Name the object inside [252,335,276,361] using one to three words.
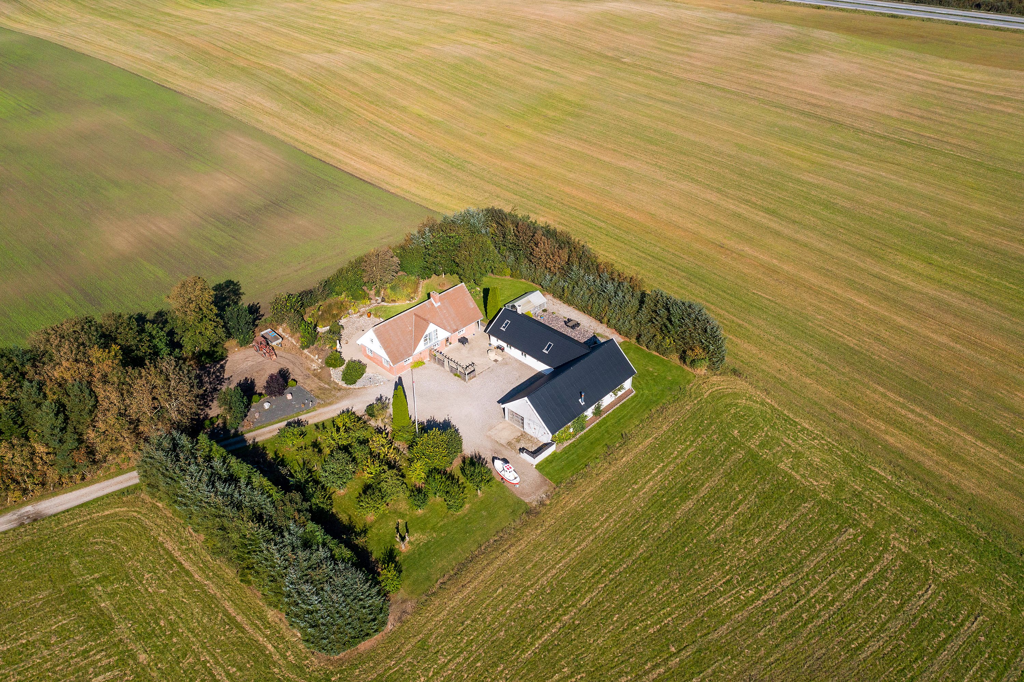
work vehicle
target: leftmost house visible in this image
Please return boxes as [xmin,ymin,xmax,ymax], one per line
[355,282,484,377]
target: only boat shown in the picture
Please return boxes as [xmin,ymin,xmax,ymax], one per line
[492,455,521,488]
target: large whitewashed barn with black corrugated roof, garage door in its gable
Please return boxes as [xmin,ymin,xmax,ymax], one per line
[500,338,637,445]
